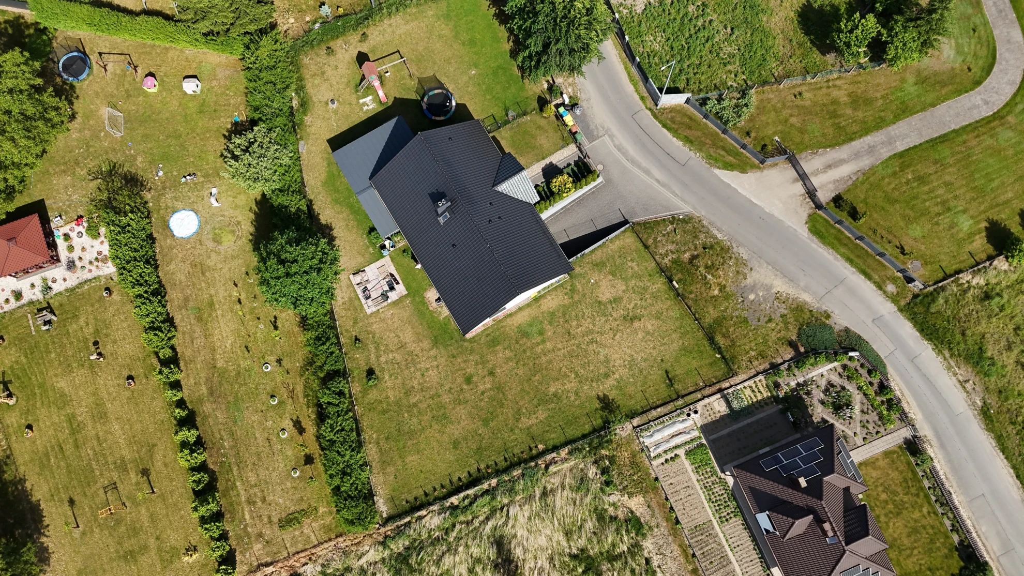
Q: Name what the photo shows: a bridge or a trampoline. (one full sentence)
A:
There is a trampoline in the scene.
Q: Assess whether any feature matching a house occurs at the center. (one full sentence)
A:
Yes, a house is visible at the center.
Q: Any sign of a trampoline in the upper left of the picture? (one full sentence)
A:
Yes, a trampoline appears in the upper left of the picture.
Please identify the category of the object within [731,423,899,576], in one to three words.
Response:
house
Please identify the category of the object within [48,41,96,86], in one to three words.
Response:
trampoline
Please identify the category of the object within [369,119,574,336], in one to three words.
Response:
house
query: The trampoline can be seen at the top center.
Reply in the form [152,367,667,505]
[417,79,458,120]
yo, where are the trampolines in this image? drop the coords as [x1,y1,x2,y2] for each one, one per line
[48,41,96,86]
[417,79,458,120]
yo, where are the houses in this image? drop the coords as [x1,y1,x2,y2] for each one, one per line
[0,214,69,288]
[369,119,574,336]
[731,423,899,576]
